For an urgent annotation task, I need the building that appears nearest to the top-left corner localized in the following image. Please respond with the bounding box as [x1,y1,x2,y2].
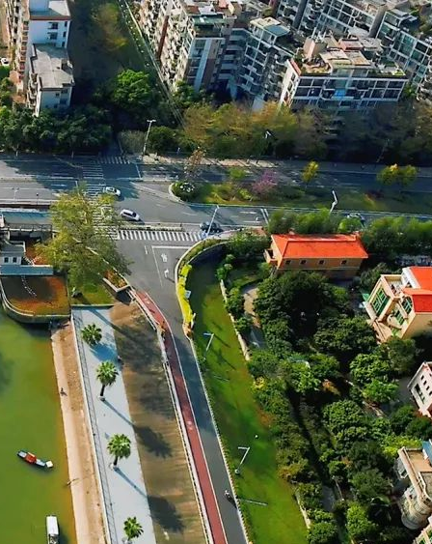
[11,0,74,131]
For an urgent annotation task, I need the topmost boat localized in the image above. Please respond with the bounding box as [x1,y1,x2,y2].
[15,447,54,468]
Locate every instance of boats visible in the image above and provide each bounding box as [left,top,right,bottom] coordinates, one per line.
[47,510,60,544]
[15,447,54,468]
